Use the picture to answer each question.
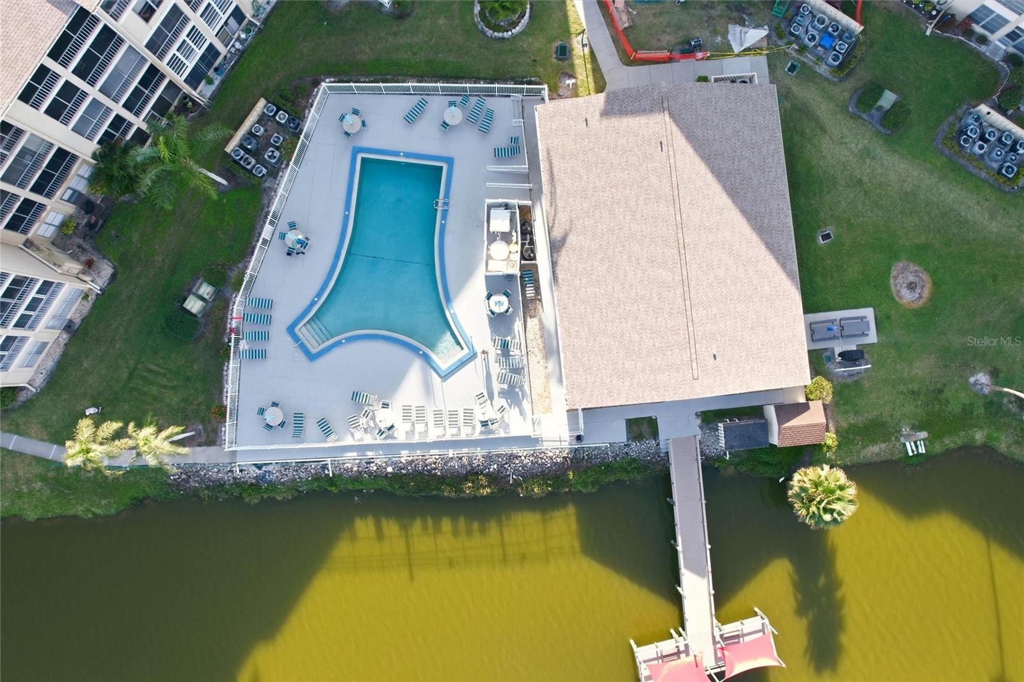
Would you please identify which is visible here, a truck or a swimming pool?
swimming pool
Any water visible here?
Yes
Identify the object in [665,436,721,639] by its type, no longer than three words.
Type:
pier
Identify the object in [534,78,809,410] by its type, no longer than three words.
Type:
building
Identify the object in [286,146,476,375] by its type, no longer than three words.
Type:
swimming pool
